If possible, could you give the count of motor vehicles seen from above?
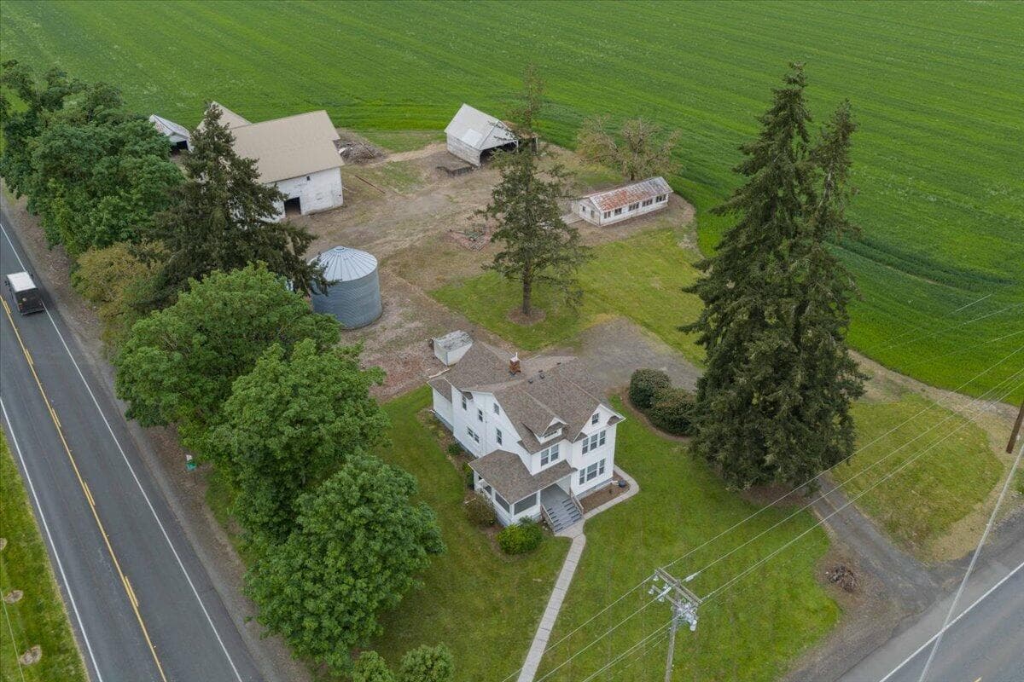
1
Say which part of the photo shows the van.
left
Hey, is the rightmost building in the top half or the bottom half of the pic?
top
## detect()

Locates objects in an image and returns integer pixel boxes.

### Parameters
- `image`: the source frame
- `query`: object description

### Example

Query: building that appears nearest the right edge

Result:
[568,177,675,225]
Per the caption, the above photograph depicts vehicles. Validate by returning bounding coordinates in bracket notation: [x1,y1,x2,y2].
[4,271,43,312]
